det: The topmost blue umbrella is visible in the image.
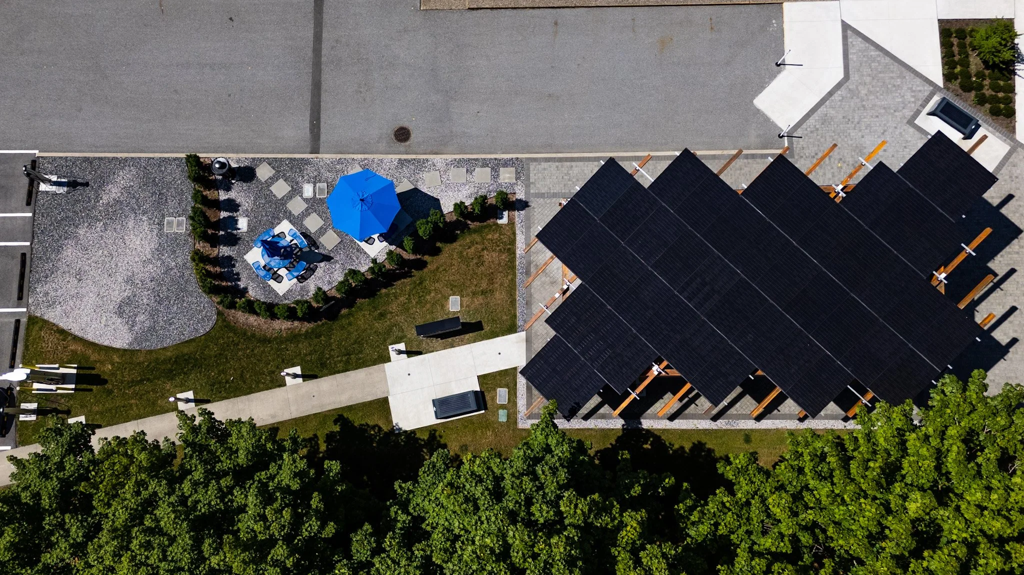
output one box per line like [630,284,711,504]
[326,168,401,240]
